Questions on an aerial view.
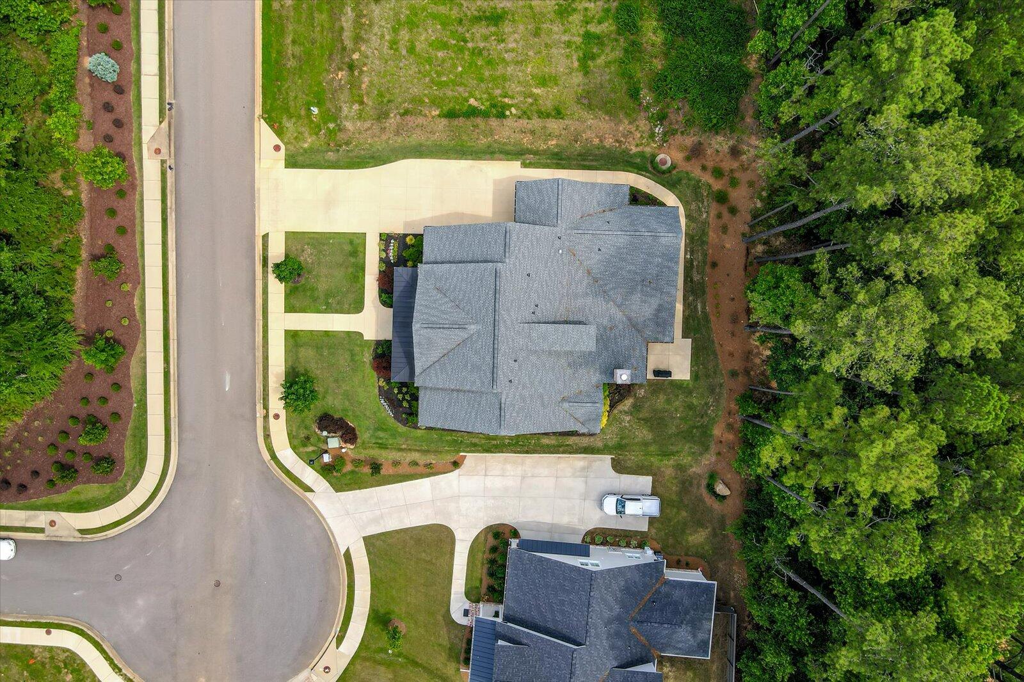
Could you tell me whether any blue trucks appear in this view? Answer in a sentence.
No, there is no blue truck in the image.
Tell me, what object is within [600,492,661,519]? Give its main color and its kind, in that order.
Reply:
white truck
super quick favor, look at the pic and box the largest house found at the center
[392,179,682,435]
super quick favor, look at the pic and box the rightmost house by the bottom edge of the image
[470,539,718,682]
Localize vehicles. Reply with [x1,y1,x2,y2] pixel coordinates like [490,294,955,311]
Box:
[0,536,19,559]
[600,492,661,519]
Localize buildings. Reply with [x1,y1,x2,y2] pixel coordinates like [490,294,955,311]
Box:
[392,179,682,435]
[470,539,718,682]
